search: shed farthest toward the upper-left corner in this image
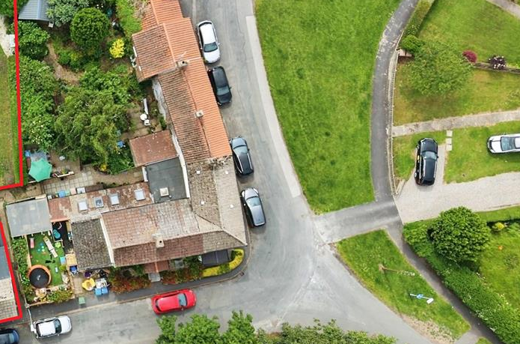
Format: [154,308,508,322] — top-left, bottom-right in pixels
[18,0,50,23]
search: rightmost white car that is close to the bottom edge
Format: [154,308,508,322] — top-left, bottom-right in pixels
[31,314,72,338]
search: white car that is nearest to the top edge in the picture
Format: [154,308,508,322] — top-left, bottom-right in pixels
[194,19,222,65]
